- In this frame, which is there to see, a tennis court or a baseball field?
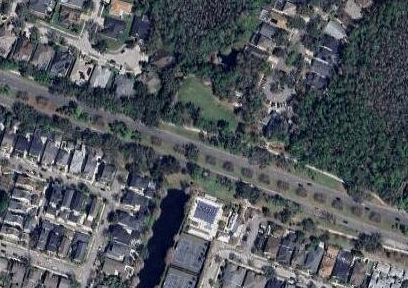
tennis court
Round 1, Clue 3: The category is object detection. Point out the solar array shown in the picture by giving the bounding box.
[193,199,220,223]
